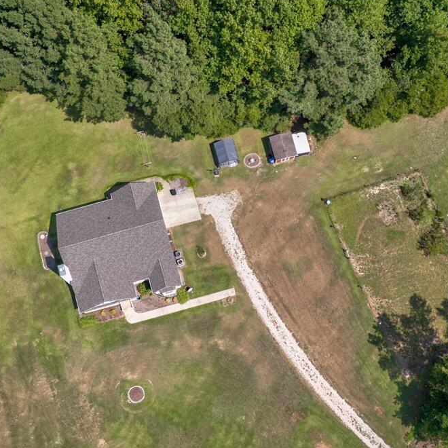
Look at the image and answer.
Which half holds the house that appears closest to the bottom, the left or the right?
left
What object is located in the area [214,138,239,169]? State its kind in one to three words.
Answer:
shed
